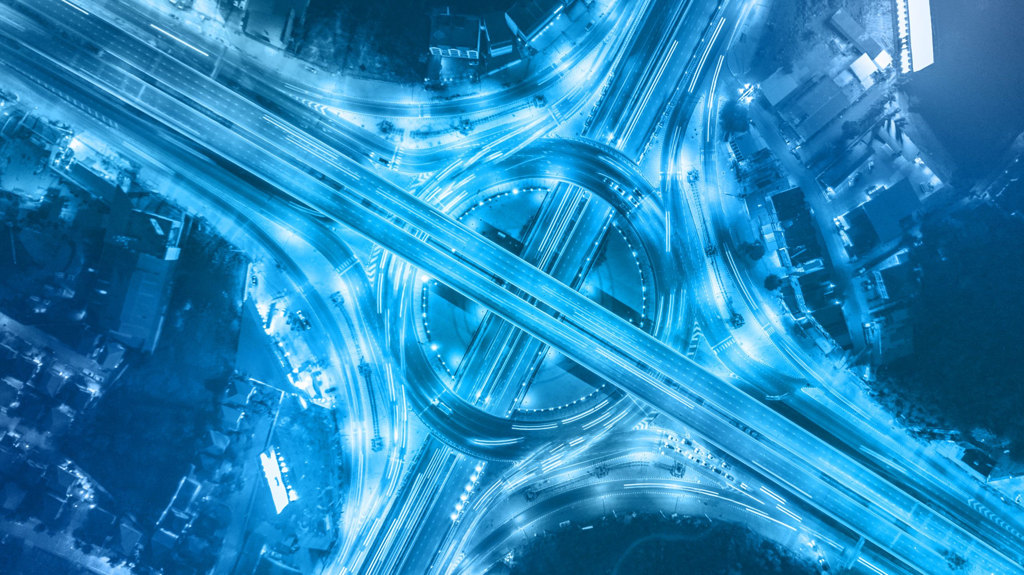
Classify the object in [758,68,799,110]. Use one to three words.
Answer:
building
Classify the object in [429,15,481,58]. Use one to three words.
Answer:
house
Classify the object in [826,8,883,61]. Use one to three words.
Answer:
shed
